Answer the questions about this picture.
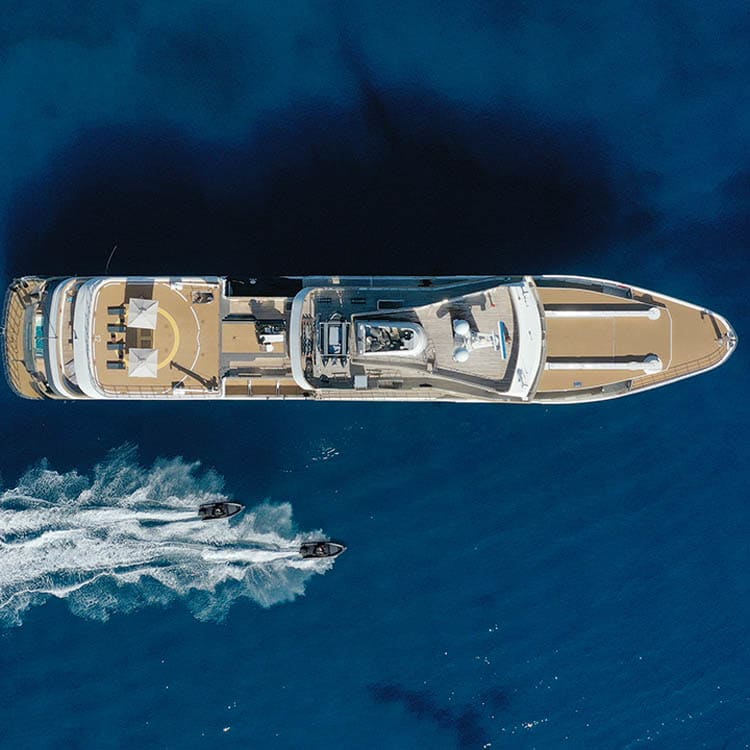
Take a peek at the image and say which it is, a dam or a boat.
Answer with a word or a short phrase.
boat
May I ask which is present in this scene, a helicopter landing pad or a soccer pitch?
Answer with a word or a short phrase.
helicopter landing pad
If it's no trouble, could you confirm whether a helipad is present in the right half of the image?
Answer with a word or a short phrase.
No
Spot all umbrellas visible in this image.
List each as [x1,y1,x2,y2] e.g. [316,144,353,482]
[129,348,159,378]
[130,298,160,328]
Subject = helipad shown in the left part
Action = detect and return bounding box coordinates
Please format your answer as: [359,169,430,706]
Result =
[94,282,219,394]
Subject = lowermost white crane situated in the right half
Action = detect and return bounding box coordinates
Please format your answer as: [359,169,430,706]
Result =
[545,357,662,374]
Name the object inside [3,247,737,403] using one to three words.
boat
